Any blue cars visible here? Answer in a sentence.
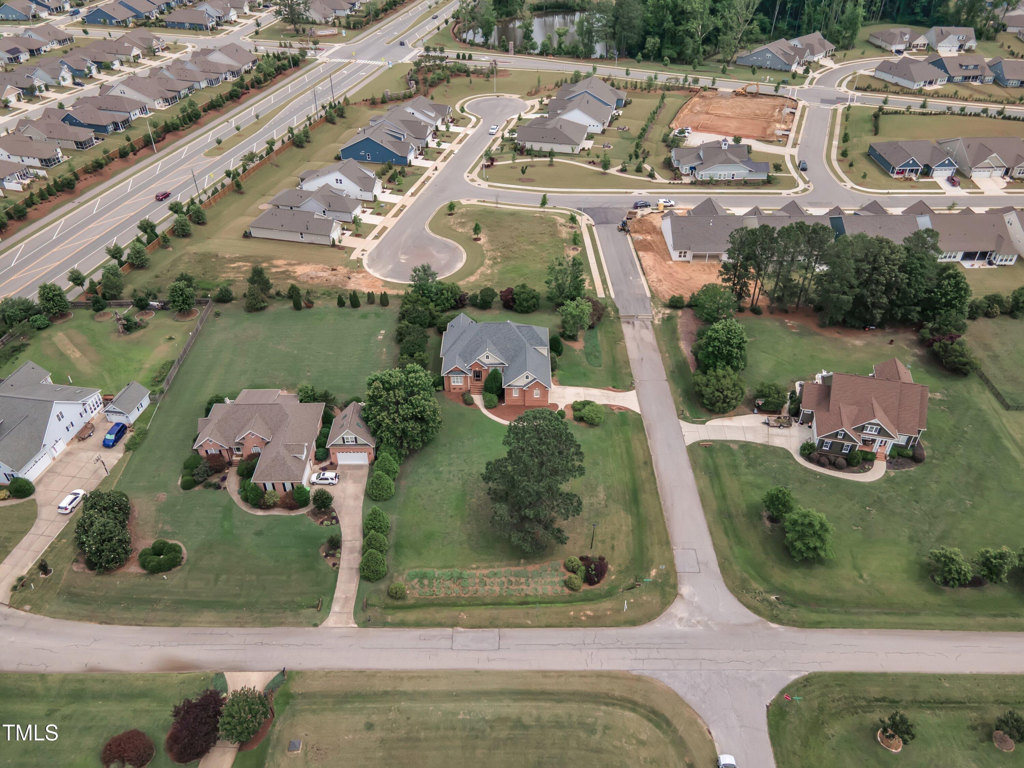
Yes, a blue car can be made out from above.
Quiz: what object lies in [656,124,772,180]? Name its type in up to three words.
building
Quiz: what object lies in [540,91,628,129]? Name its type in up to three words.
house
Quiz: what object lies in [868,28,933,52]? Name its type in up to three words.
house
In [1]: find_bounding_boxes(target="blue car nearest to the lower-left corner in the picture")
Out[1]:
[100,419,130,447]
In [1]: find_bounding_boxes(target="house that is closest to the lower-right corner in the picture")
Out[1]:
[796,356,933,462]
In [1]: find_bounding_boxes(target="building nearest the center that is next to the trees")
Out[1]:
[439,313,552,407]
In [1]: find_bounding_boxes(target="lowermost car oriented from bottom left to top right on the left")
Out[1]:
[53,490,90,516]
